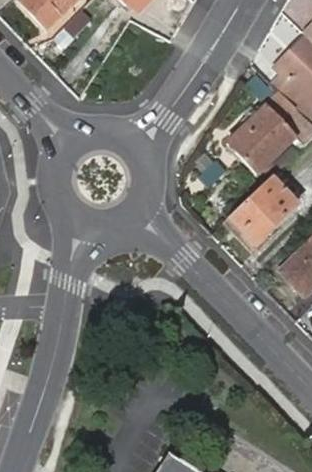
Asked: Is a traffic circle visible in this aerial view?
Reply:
Yes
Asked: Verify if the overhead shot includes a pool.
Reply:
Yes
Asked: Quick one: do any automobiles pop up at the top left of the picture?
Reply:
Yes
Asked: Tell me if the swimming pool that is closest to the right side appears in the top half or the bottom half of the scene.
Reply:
top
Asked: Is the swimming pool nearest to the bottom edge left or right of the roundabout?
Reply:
on the right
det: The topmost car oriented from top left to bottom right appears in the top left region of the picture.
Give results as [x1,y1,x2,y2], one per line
[5,45,25,66]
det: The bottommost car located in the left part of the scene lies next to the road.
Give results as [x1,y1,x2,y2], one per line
[88,242,106,261]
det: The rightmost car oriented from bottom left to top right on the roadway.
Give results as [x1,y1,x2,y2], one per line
[192,83,210,104]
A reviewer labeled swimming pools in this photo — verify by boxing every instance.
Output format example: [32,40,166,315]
[200,159,226,187]
[244,74,275,103]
